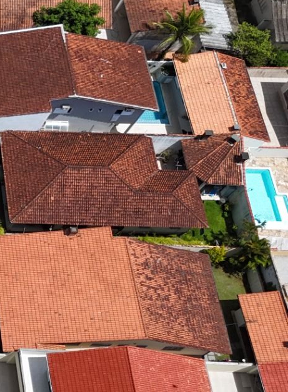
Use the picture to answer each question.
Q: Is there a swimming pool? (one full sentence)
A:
Yes, you can see a swimming pool in this photo.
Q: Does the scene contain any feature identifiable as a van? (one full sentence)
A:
No, there is no van in the image.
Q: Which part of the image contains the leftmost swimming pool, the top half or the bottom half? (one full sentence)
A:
Seen from above, the leftmost swimming pool lies in the top half of the view.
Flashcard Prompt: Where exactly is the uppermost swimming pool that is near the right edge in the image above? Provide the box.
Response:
[247,164,288,227]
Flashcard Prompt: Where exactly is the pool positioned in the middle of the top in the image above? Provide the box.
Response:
[135,78,173,126]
